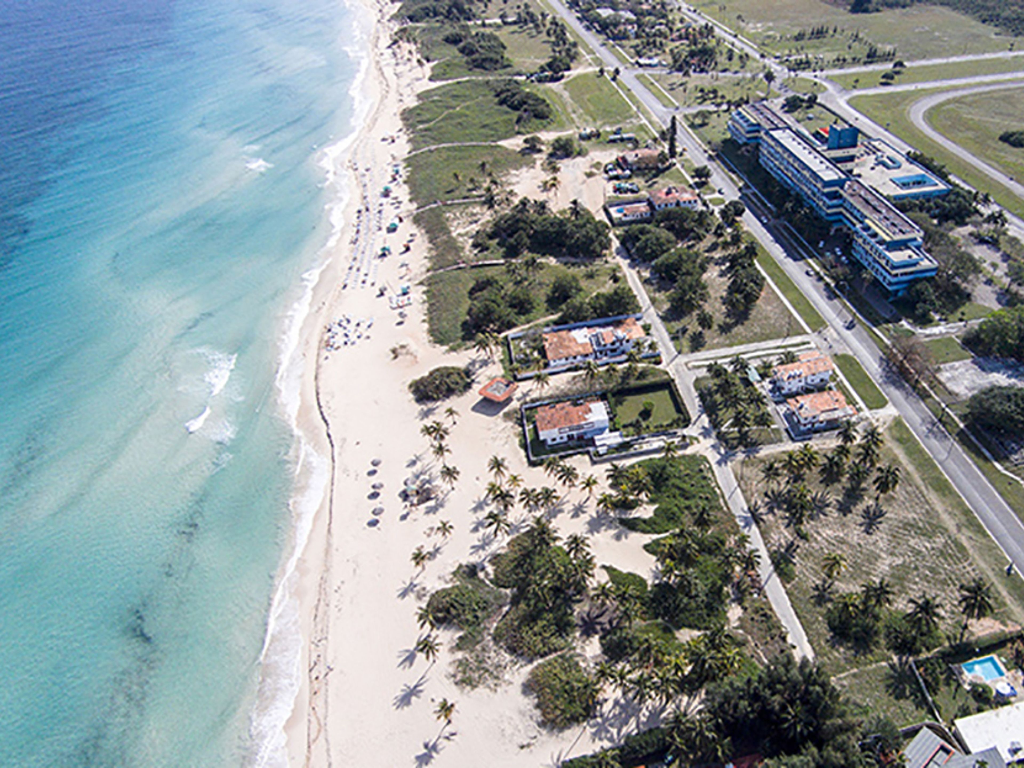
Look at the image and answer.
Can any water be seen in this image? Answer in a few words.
Yes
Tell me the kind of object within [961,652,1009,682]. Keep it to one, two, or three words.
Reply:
swimming pool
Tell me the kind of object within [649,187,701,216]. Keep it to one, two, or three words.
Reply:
house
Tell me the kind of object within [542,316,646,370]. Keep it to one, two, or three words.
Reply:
house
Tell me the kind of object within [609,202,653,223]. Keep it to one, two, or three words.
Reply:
shed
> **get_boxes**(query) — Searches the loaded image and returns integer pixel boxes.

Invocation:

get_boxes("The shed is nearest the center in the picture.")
[479,379,517,406]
